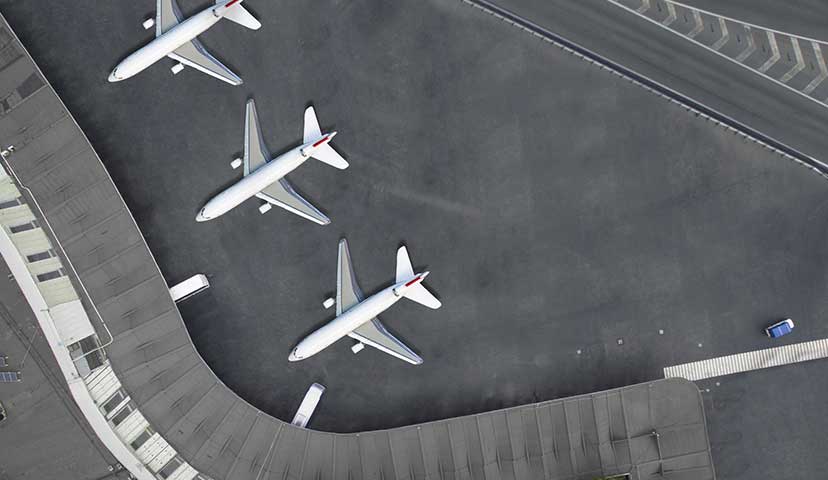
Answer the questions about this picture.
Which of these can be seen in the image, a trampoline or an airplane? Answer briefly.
airplane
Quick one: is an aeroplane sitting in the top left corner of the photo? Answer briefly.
Yes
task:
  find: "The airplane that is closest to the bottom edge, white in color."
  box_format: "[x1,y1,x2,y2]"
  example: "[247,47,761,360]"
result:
[289,238,441,365]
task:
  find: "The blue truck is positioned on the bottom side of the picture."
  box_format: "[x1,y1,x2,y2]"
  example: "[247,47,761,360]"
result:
[766,317,796,339]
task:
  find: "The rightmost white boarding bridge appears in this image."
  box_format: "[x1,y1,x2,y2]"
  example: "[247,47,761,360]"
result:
[292,383,327,428]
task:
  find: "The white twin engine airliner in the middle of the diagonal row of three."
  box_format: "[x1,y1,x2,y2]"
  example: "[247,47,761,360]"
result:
[196,98,349,225]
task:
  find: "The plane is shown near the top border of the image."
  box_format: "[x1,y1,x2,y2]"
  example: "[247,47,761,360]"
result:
[108,0,260,86]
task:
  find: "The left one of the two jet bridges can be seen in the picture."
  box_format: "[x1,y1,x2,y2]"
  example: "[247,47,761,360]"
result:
[169,275,211,304]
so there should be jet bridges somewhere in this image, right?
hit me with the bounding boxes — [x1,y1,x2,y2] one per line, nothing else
[292,383,327,428]
[169,275,211,304]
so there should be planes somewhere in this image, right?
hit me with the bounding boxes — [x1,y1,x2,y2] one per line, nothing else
[108,0,260,86]
[196,98,349,225]
[289,238,441,365]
